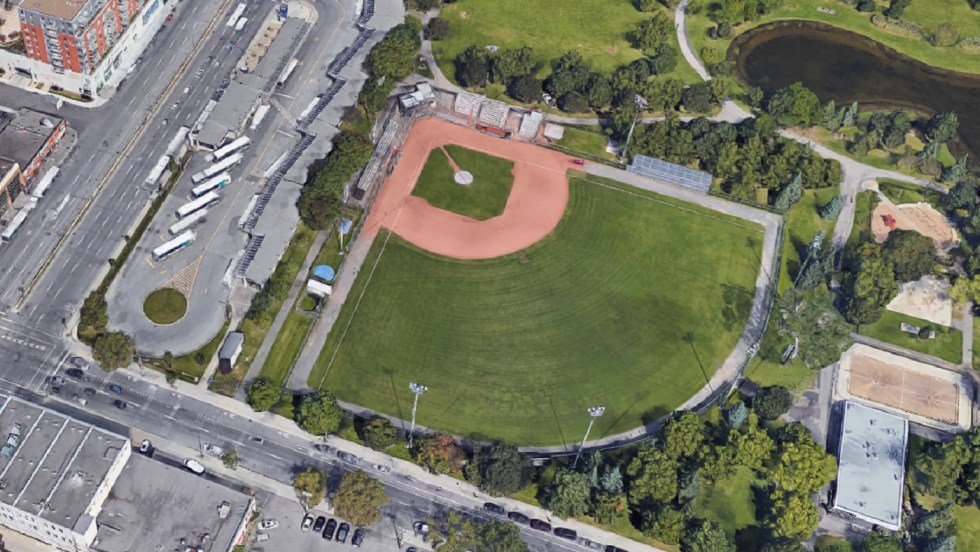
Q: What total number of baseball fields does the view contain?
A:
1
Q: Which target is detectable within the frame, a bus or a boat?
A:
bus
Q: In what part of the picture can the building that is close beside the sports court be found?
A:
bottom right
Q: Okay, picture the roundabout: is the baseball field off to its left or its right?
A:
on the right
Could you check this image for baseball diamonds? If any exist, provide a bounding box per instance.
[285,118,783,453]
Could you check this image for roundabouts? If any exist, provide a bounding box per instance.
[144,289,188,325]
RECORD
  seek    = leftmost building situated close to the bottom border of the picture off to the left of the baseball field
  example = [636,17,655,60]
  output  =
[0,396,132,548]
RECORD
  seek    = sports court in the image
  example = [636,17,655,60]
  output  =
[836,344,972,430]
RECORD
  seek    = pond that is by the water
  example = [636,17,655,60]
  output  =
[726,20,980,183]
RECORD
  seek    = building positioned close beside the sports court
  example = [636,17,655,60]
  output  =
[827,401,907,540]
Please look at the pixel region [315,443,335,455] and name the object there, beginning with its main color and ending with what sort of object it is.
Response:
gray vehicle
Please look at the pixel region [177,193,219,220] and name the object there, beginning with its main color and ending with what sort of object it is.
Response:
white bus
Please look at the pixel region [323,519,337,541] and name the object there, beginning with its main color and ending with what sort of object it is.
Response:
black car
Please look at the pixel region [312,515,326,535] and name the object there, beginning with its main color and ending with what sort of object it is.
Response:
black car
